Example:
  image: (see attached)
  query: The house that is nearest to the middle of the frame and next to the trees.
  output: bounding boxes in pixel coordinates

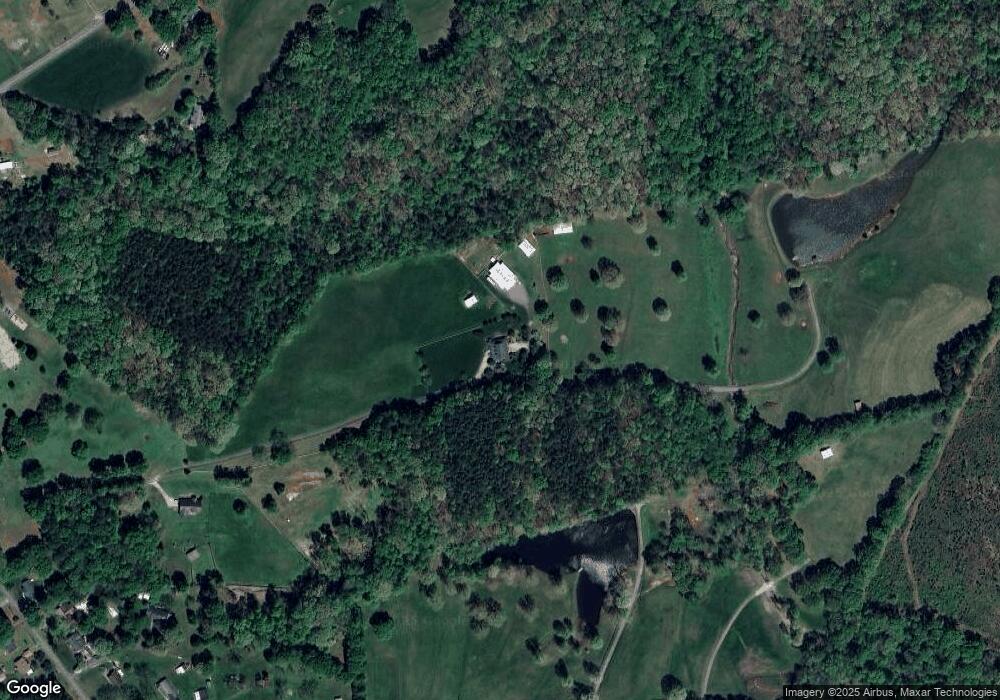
[491,339,514,364]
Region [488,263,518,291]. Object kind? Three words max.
barn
